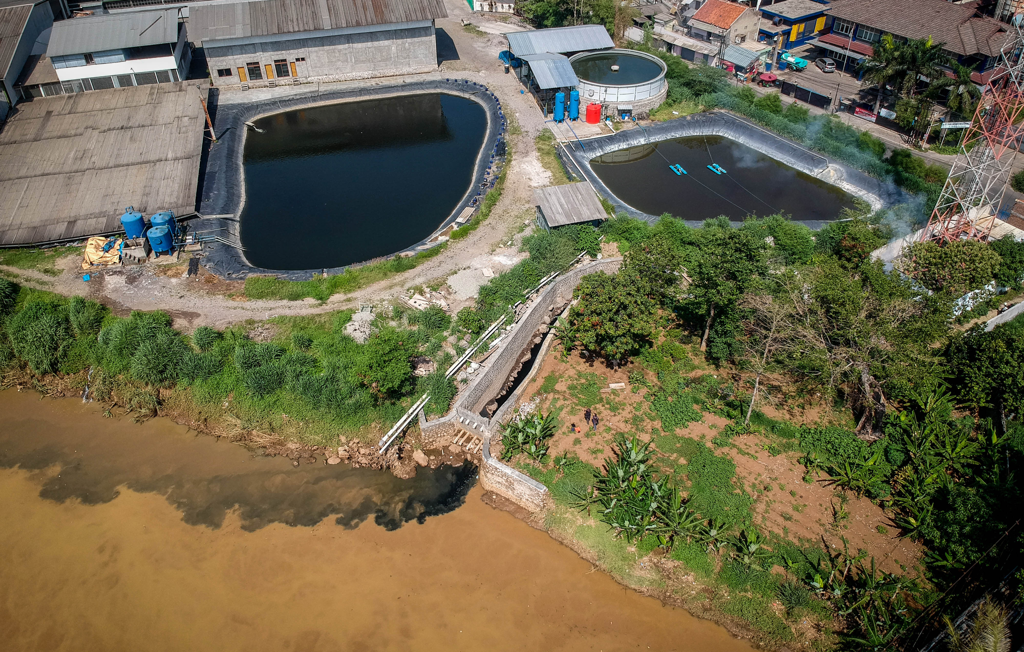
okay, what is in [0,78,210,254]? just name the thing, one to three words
shed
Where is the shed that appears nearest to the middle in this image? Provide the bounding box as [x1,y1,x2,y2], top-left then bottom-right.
[533,181,609,231]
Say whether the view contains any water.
Yes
